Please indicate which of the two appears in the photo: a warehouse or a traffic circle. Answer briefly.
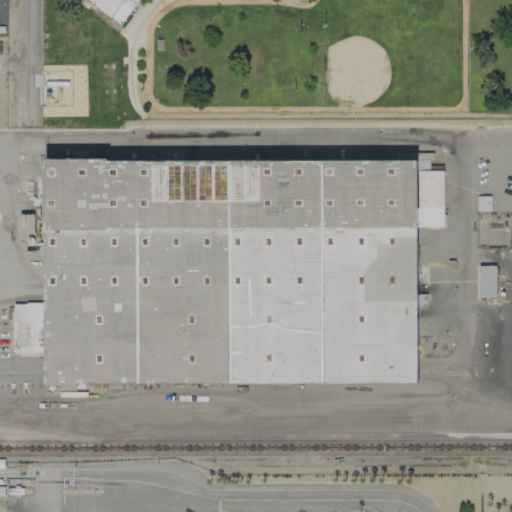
warehouse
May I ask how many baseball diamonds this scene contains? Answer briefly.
1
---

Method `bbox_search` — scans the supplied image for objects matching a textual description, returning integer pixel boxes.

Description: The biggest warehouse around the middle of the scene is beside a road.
[39,158,418,384]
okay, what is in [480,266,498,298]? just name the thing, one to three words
building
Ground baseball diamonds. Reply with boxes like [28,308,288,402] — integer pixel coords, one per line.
[327,36,392,107]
